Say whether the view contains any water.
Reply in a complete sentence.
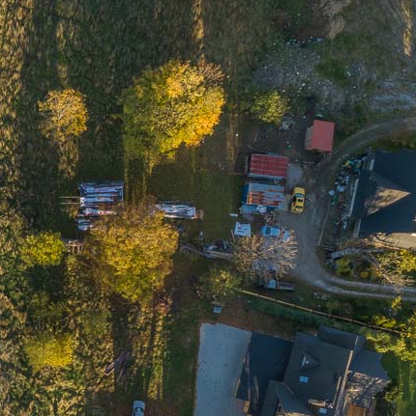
No, no water is visible.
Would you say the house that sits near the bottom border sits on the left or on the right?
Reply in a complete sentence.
The house that sits near the bottom border sits on the right side.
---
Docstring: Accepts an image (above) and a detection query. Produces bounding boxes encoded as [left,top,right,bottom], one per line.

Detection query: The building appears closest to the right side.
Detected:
[340,151,416,256]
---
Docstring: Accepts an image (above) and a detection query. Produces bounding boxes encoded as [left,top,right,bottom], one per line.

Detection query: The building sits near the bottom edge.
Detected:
[227,322,390,416]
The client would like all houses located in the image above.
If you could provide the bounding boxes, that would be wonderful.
[227,322,390,416]
[340,151,416,256]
